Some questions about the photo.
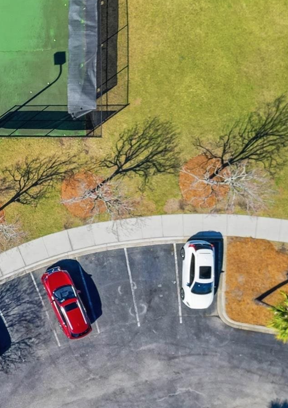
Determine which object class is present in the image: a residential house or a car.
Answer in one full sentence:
Visible in the photo is a car.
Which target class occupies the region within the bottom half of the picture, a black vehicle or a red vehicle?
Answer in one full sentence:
You can see a red vehicle within the bottom half of the picture.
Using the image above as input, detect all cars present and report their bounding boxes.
[44,267,90,340]
[181,240,218,307]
